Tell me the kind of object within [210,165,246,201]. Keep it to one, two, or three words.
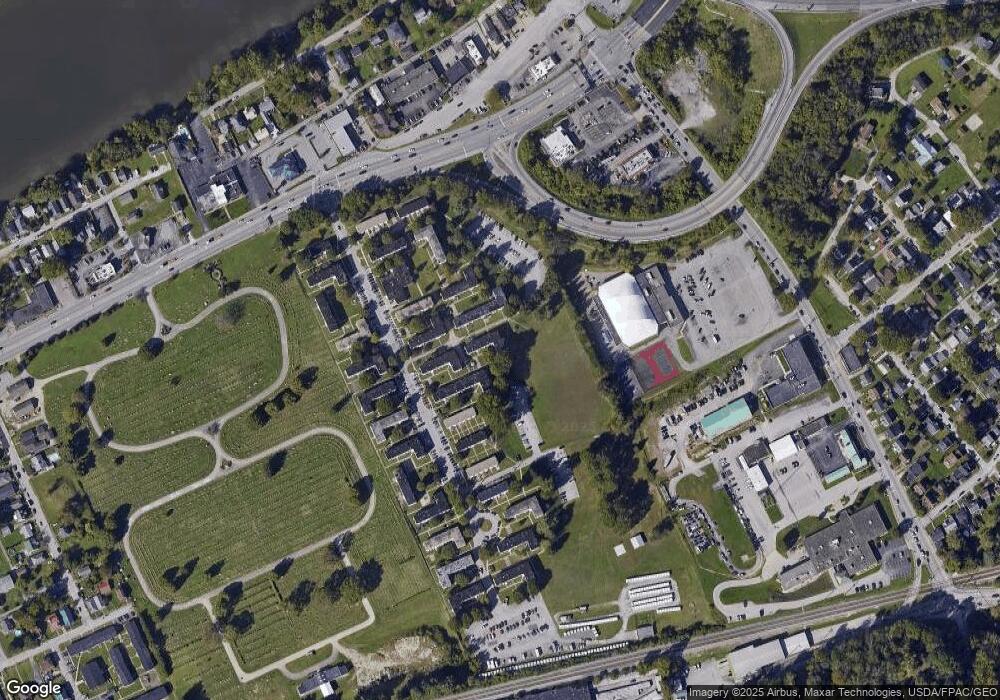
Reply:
building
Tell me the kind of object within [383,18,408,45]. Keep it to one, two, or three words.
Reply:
house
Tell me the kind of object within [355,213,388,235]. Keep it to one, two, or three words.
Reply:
building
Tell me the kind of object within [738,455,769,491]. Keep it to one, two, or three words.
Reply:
shed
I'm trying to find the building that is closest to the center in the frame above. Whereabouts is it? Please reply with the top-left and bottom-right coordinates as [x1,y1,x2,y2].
[464,327,511,355]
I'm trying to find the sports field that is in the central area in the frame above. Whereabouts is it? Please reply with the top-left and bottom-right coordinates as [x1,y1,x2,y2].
[531,308,612,443]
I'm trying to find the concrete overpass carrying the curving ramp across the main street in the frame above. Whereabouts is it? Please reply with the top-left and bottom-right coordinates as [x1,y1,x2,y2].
[715,174,750,208]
